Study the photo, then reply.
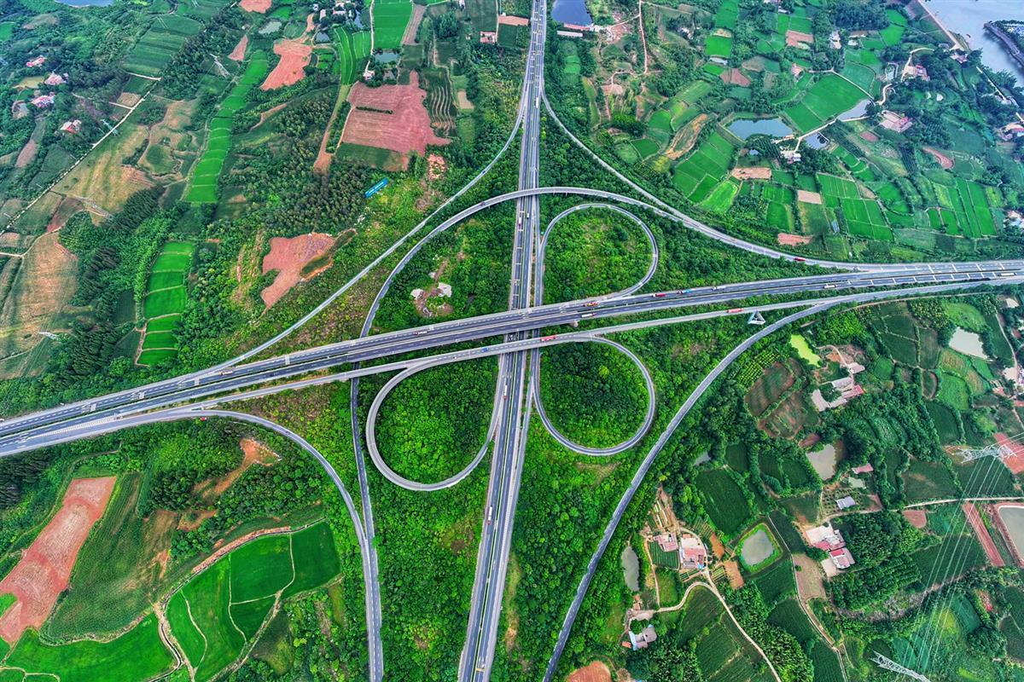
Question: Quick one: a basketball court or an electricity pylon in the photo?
electricity pylon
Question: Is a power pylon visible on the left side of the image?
Yes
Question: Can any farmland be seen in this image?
Yes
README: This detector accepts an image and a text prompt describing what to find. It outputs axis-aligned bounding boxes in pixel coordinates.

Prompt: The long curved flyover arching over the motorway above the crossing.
[405,188,741,260]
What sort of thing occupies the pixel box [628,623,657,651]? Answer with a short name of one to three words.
house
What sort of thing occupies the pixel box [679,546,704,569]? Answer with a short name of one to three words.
house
